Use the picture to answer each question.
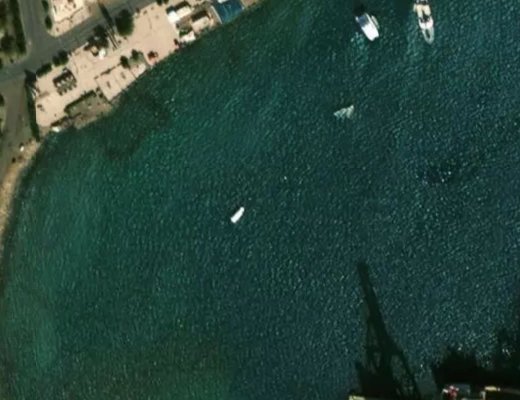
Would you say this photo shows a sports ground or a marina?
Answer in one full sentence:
This looks like a marina.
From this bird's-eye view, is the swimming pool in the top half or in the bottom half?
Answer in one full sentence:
The swimming pool is in the top half of the image.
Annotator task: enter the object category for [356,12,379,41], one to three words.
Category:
boat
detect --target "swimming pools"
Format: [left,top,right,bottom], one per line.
[210,0,247,26]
